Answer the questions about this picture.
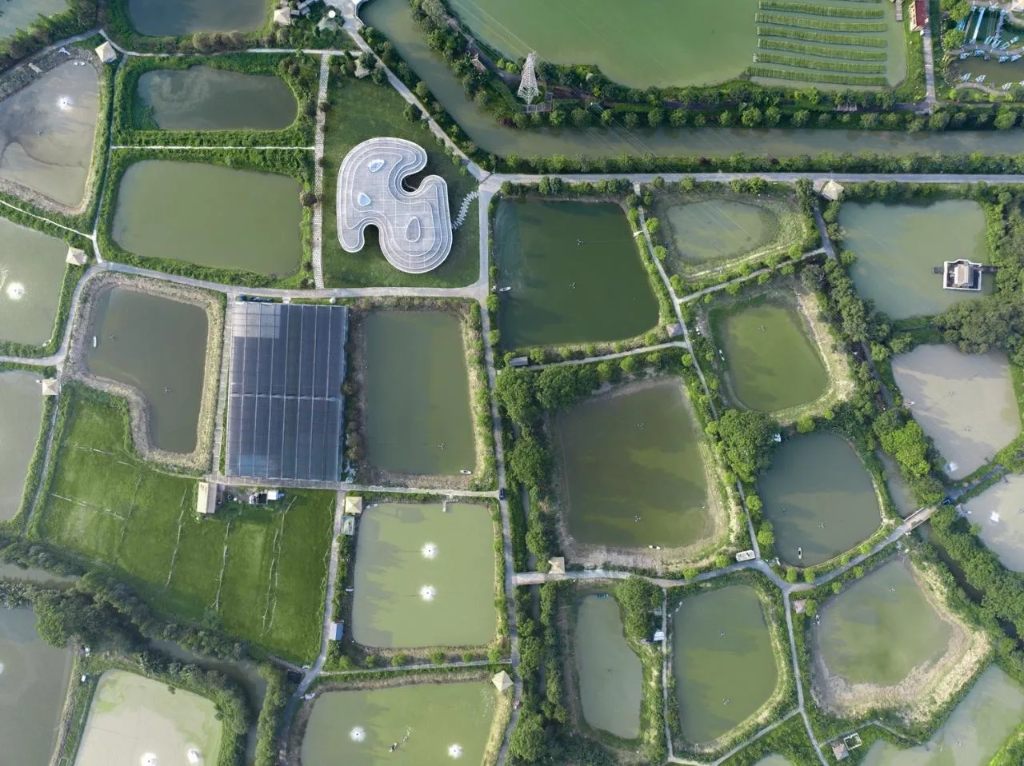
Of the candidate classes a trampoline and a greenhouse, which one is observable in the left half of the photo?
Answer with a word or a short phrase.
greenhouse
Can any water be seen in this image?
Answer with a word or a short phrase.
Yes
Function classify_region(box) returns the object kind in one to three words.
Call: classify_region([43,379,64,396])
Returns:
building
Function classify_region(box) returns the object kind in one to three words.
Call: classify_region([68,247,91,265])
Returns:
building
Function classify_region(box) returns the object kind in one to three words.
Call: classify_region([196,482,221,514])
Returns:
house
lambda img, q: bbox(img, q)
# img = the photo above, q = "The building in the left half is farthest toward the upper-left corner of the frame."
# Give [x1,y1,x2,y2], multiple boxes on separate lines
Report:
[94,41,122,67]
